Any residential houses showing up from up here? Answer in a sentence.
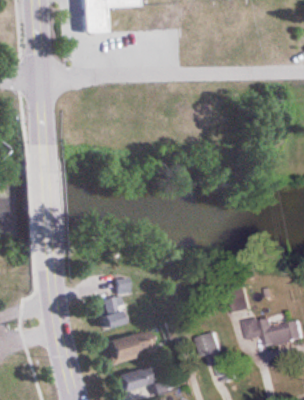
Yes, there's a residential house here.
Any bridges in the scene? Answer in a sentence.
Yes, looking at the shot, I can spot a bridge.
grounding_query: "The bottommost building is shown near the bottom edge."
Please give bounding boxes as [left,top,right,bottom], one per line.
[121,368,176,399]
